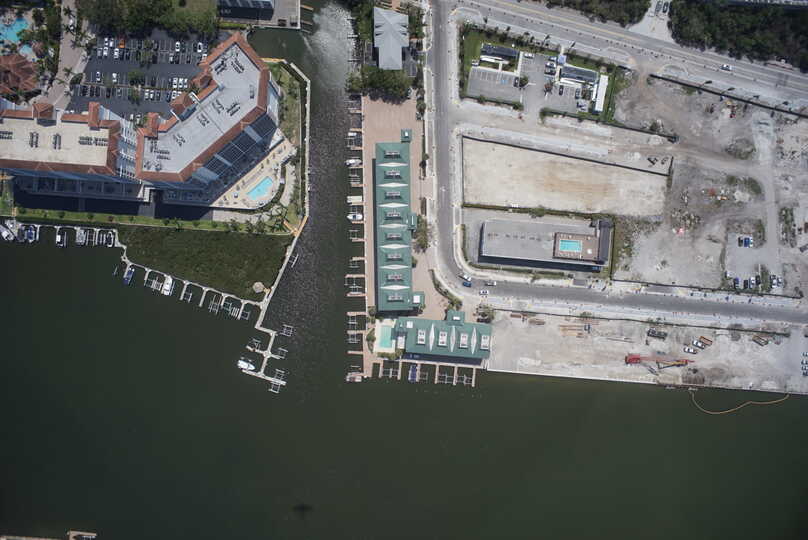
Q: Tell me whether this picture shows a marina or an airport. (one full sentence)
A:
It's a marina.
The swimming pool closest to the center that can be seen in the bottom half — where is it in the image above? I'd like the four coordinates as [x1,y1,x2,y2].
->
[375,320,398,353]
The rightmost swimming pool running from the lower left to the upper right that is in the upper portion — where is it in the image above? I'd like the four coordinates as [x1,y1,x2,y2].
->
[245,176,275,201]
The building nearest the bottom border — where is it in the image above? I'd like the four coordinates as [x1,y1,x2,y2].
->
[391,309,491,358]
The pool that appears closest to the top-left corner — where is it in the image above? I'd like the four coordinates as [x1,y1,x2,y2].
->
[0,17,30,44]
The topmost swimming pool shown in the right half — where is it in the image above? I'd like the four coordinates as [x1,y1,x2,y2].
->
[559,240,582,253]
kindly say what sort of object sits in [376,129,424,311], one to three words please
building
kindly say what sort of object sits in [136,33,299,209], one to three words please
building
